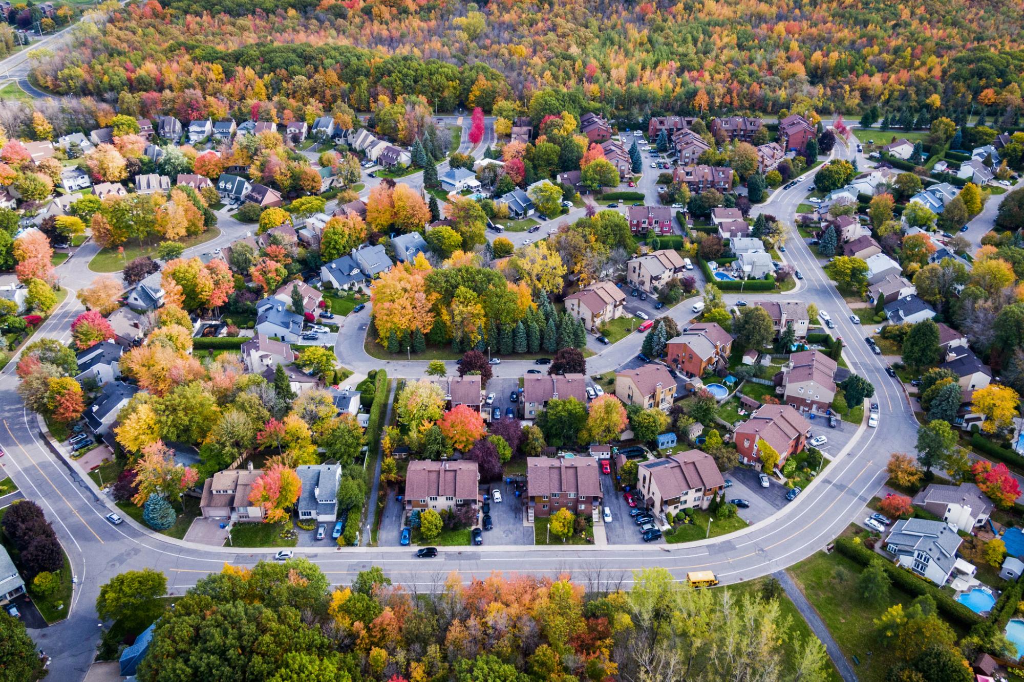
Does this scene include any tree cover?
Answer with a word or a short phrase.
Yes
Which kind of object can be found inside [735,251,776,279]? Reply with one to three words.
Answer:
house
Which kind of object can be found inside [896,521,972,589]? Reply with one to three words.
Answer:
house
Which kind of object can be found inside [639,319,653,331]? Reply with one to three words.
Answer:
vehicle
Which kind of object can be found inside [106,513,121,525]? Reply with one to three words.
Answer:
vehicle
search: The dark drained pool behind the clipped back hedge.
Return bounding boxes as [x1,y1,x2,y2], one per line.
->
[195,320,233,338]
